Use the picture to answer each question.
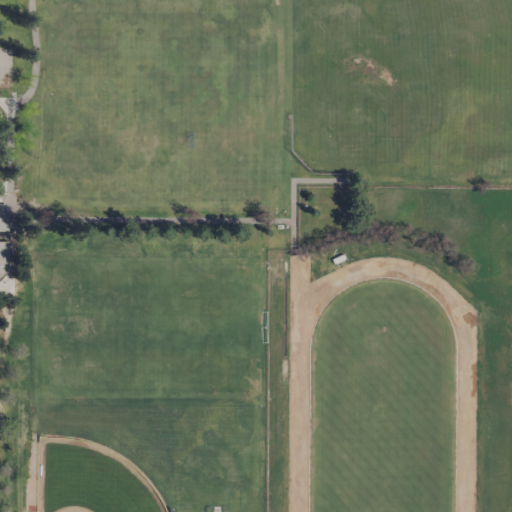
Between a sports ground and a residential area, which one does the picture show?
sports ground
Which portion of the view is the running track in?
bottom right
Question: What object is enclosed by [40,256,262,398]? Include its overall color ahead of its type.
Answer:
green sports field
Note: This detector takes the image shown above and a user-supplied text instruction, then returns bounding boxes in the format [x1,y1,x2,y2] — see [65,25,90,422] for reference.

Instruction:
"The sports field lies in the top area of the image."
[44,0,276,206]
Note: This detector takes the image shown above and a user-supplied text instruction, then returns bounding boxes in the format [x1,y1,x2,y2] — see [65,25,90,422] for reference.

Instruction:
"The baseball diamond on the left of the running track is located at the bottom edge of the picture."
[38,436,166,512]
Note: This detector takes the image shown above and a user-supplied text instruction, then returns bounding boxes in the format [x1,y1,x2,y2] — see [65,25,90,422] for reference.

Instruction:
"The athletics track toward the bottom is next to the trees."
[289,255,478,512]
